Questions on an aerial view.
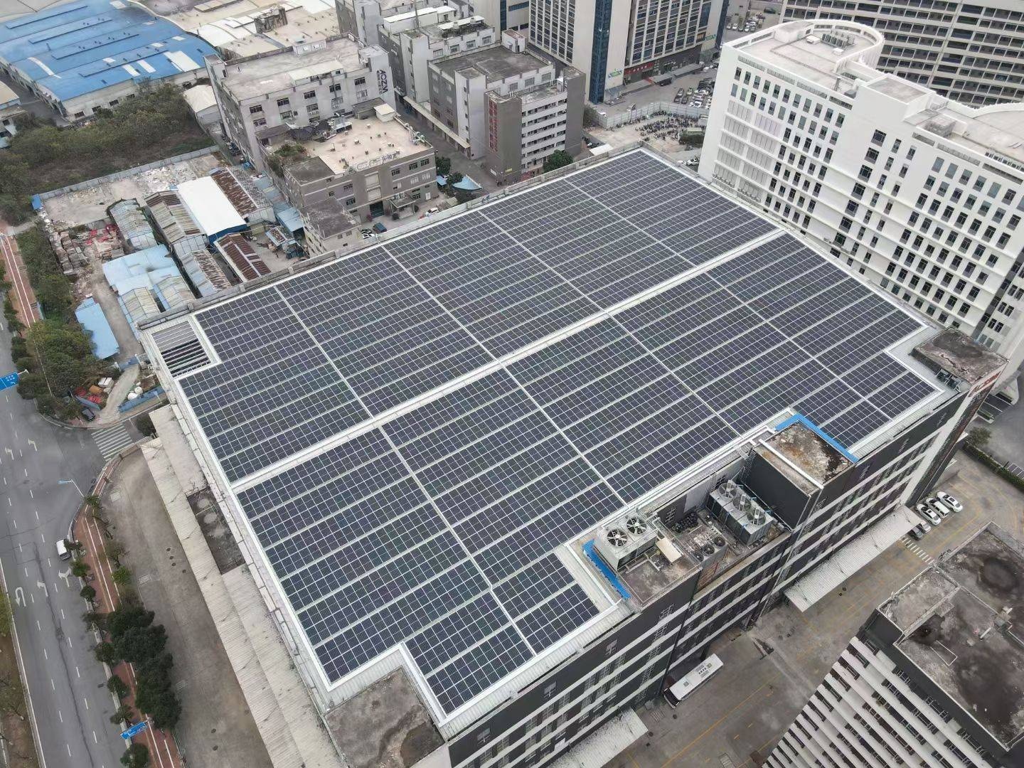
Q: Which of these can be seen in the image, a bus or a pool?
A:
bus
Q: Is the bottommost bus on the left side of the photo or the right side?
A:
right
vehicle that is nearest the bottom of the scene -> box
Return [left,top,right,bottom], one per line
[663,653,725,712]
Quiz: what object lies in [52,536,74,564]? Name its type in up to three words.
vehicle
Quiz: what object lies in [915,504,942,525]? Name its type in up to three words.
car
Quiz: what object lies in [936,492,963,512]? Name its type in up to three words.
car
